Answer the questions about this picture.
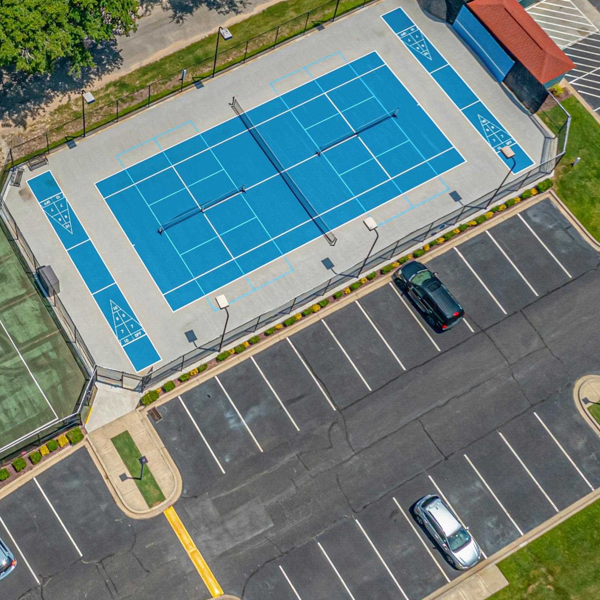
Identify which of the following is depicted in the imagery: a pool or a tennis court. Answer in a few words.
tennis court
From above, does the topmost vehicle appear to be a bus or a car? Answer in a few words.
car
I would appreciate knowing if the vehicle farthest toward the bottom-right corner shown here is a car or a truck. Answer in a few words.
car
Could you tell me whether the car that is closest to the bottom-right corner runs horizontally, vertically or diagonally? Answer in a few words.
diagonally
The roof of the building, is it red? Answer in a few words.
Yes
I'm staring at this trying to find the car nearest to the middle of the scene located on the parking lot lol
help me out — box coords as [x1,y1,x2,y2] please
[394,263,463,334]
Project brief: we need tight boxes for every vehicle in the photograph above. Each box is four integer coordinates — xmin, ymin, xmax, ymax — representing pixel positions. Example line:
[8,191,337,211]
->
[394,263,463,334]
[414,493,479,572]
[0,541,16,584]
